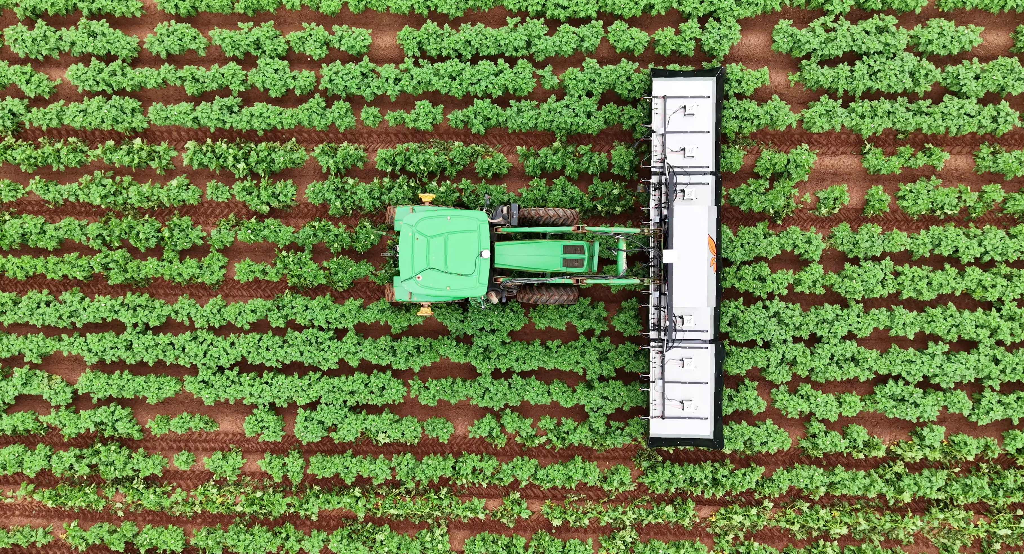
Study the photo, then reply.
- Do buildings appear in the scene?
No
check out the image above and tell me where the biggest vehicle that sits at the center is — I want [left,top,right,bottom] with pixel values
[378,192,599,316]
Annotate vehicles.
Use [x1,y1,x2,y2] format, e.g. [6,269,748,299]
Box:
[378,192,599,316]
[489,224,667,291]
